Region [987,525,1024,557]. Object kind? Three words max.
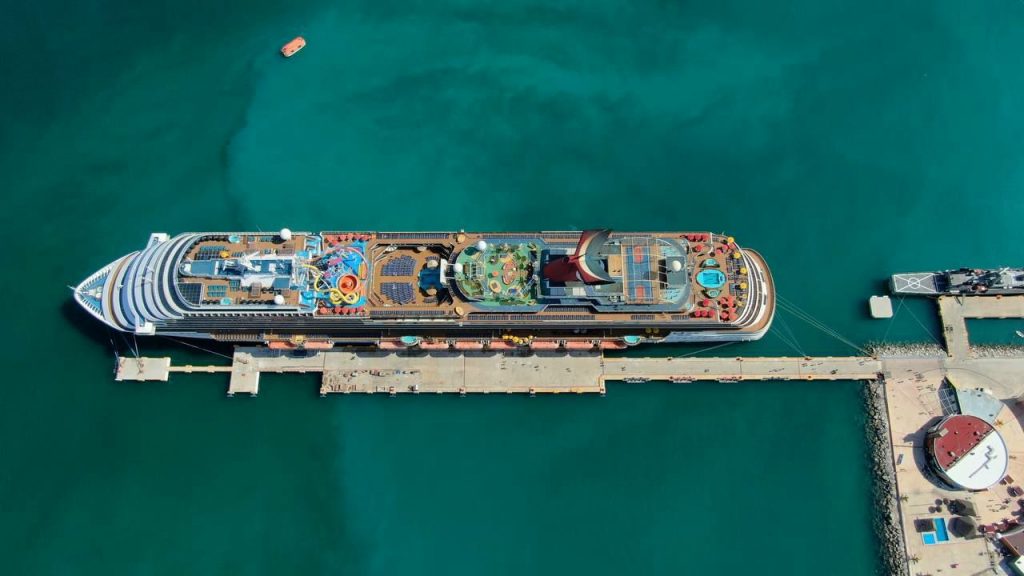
building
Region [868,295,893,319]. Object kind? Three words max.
pier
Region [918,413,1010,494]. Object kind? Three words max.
building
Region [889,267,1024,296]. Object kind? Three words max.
ship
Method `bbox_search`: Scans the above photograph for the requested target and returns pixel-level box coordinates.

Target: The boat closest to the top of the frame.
[281,40,303,54]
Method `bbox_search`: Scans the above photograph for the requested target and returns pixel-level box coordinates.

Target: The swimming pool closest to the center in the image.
[421,268,440,290]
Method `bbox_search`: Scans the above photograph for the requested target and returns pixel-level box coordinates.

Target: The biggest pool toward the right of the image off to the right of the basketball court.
[696,269,726,288]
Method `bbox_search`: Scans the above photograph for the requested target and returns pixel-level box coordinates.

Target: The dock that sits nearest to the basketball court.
[116,346,883,399]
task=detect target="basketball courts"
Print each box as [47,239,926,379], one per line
[623,238,697,306]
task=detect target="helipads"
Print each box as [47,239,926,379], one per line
[894,274,936,293]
